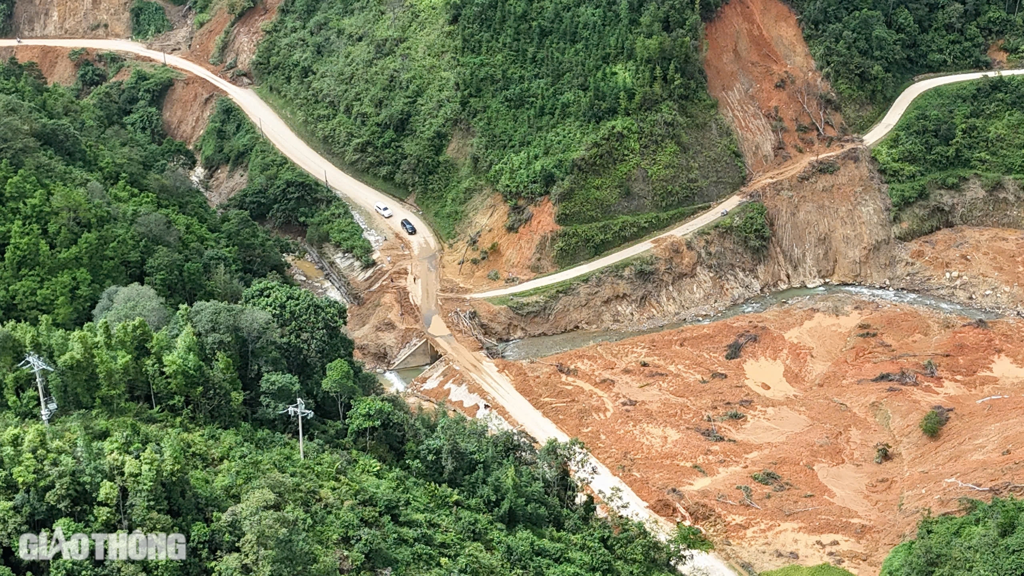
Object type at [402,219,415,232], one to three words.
vehicle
